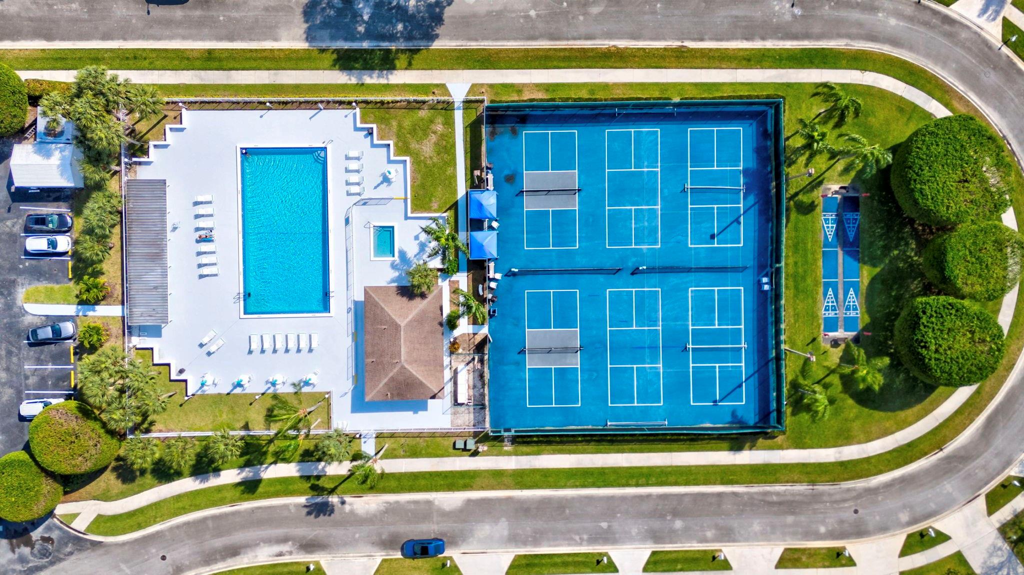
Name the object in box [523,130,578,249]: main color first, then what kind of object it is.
blue sports court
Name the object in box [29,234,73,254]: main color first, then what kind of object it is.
white car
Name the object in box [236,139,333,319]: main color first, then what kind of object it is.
blue swimming pool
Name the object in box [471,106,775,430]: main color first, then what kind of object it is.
blue tennis court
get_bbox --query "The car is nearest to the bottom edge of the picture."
[402,537,444,558]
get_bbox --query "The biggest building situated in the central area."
[363,285,445,402]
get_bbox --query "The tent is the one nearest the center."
[470,230,498,260]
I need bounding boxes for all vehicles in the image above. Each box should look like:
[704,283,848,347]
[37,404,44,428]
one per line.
[28,213,75,233]
[32,321,78,342]
[25,398,71,417]
[402,537,444,558]
[29,234,73,254]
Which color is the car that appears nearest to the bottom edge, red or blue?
blue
